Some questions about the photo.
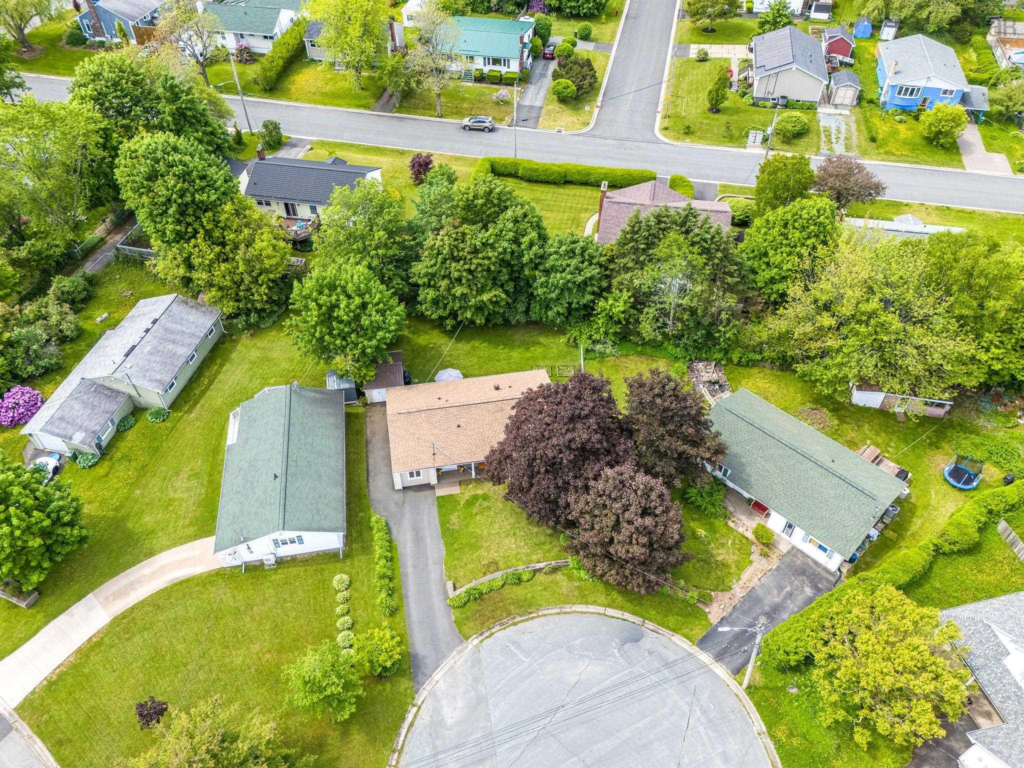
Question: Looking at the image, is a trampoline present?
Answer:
Yes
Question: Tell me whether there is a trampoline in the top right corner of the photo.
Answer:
No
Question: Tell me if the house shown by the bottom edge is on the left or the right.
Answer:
right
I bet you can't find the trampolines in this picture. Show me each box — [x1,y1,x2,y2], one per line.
[943,447,992,489]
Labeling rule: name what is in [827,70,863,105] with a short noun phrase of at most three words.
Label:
shed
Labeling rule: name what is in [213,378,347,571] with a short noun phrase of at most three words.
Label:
house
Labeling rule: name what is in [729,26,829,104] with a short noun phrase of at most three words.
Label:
house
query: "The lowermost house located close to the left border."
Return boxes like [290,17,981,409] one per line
[18,295,231,459]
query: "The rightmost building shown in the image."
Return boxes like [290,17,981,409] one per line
[938,594,1024,768]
